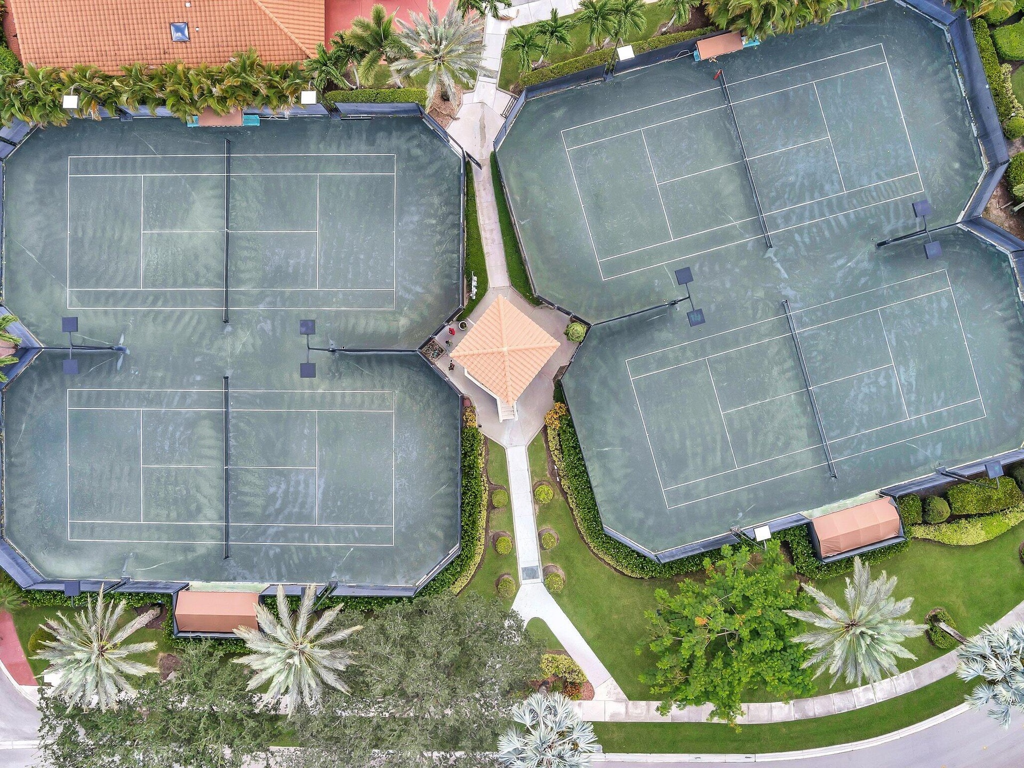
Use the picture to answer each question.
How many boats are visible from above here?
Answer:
zero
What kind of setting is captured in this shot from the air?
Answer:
sports ground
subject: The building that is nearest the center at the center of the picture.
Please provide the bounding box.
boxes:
[450,294,560,423]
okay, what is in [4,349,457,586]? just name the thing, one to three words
tennis court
